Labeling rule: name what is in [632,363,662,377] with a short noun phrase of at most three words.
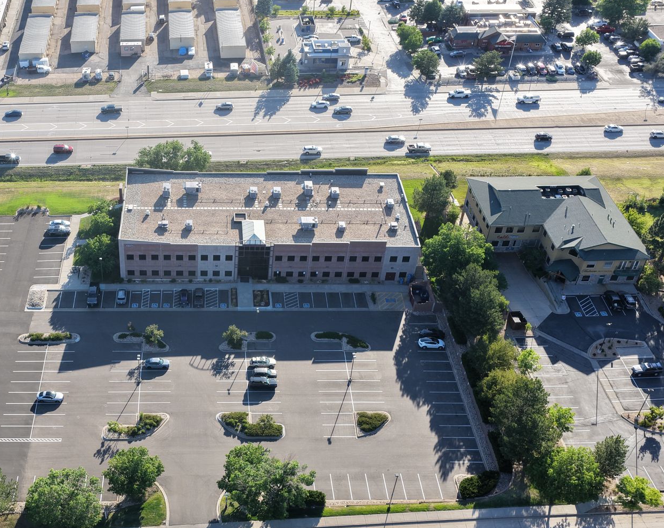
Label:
vehicle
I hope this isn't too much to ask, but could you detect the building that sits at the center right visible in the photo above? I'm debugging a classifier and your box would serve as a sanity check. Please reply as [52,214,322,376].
[462,176,649,296]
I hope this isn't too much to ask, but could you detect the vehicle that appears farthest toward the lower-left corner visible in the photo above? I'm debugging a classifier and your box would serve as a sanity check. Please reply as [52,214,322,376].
[36,392,65,404]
